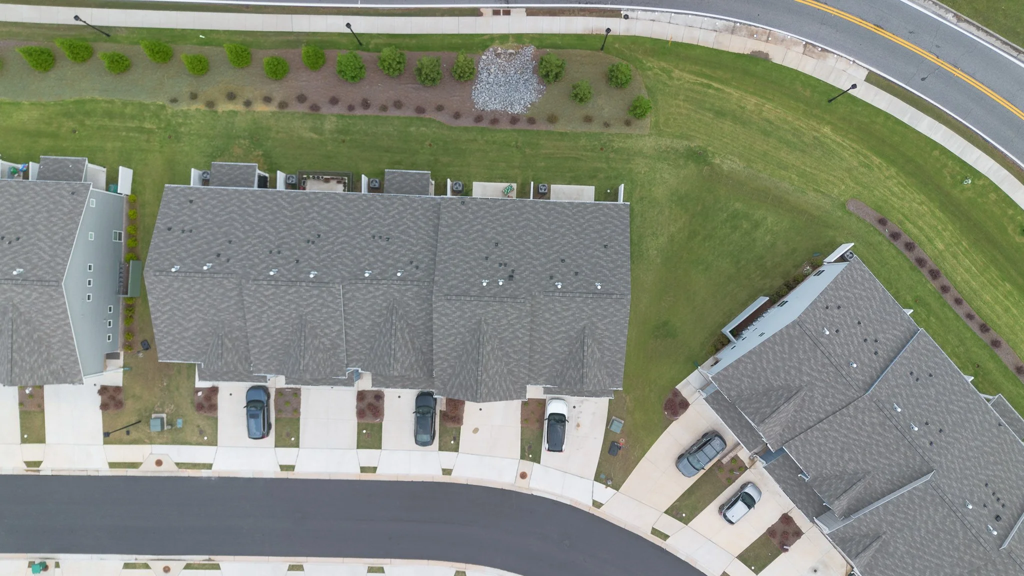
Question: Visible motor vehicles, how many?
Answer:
5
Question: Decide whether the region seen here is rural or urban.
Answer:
urban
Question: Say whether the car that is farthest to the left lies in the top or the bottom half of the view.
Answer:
bottom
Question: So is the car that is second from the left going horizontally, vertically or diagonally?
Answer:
vertically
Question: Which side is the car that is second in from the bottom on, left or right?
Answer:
right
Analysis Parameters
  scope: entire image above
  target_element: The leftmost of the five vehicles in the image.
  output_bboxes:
[240,387,271,442]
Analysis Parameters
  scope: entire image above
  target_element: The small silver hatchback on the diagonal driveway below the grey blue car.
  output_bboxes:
[720,485,763,527]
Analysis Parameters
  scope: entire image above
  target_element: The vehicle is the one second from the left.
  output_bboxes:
[411,393,438,448]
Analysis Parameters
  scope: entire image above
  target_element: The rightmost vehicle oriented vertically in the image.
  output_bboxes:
[543,400,570,454]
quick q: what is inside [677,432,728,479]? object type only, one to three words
car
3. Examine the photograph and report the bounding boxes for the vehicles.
[677,432,728,479]
[720,485,763,527]
[240,387,271,442]
[543,400,570,454]
[411,393,438,448]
